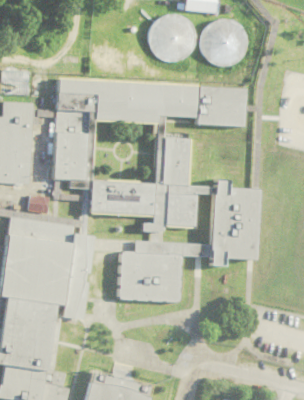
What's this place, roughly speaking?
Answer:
industrial area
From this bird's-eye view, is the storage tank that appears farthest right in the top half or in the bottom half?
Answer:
top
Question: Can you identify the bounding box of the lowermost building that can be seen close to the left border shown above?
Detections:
[0,367,71,400]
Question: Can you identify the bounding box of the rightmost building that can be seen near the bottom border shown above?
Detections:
[86,369,154,400]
